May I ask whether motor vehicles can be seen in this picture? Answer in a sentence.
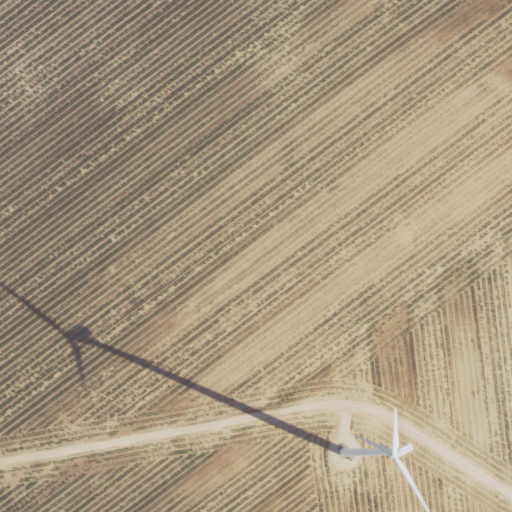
No, the photo shows no motor vehicle.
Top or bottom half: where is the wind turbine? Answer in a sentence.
The wind turbine sits in the bottom half of the picture.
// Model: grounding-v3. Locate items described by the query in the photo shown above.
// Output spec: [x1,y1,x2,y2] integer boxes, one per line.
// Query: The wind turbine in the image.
[338,408,432,512]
